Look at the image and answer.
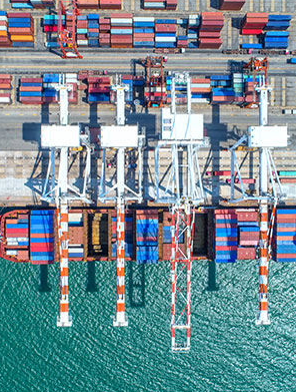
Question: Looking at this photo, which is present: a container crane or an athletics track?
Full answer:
It is a container crane that can be seen here.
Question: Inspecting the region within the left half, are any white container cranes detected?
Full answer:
Yes, looking within the left half, one can make out a white container crane.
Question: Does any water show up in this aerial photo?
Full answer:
Yes, there's water in this view.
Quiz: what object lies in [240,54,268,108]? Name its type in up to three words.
crane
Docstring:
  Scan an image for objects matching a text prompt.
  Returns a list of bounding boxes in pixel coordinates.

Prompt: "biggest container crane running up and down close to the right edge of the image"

[223,73,292,325]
